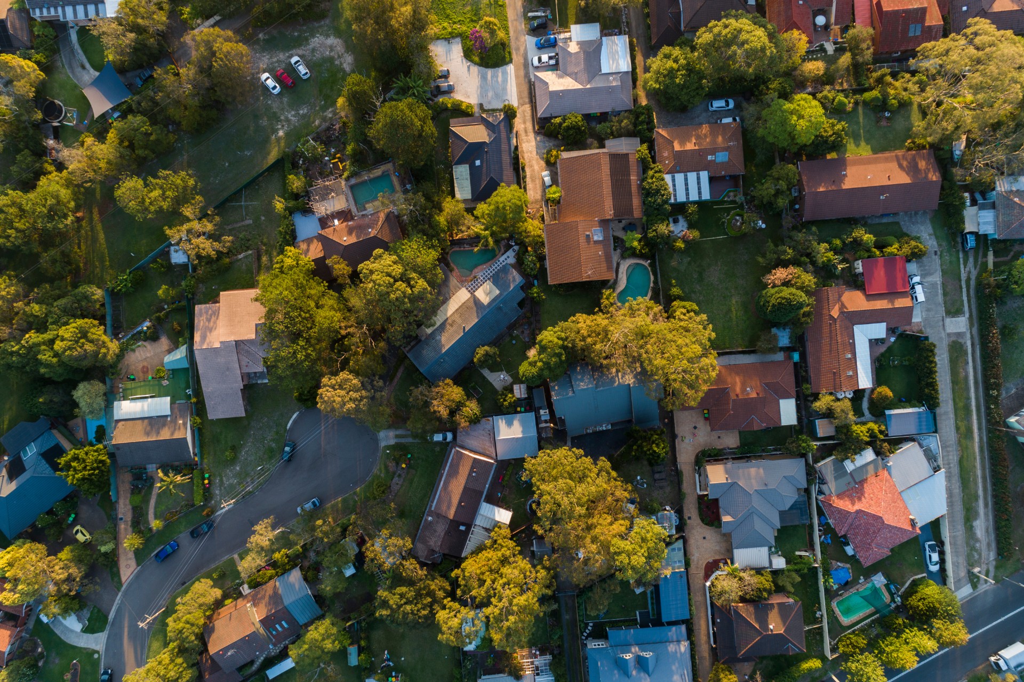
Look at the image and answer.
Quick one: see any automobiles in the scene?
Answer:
Yes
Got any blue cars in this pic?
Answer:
Yes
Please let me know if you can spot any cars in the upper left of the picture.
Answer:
Yes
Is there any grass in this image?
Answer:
Yes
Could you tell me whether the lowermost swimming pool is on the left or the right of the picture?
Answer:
right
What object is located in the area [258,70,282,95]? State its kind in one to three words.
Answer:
car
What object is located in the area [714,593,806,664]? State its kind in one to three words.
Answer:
house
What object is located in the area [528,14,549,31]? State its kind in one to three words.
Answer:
vehicle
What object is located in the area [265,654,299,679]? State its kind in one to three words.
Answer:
shed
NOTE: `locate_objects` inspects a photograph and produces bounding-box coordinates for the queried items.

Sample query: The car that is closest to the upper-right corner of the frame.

[962,231,978,250]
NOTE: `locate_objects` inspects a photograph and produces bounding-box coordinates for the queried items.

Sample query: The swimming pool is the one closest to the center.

[447,246,503,278]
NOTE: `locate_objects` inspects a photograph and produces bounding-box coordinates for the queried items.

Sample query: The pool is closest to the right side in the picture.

[833,579,890,625]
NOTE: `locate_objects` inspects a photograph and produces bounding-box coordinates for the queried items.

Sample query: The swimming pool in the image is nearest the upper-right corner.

[616,260,653,306]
